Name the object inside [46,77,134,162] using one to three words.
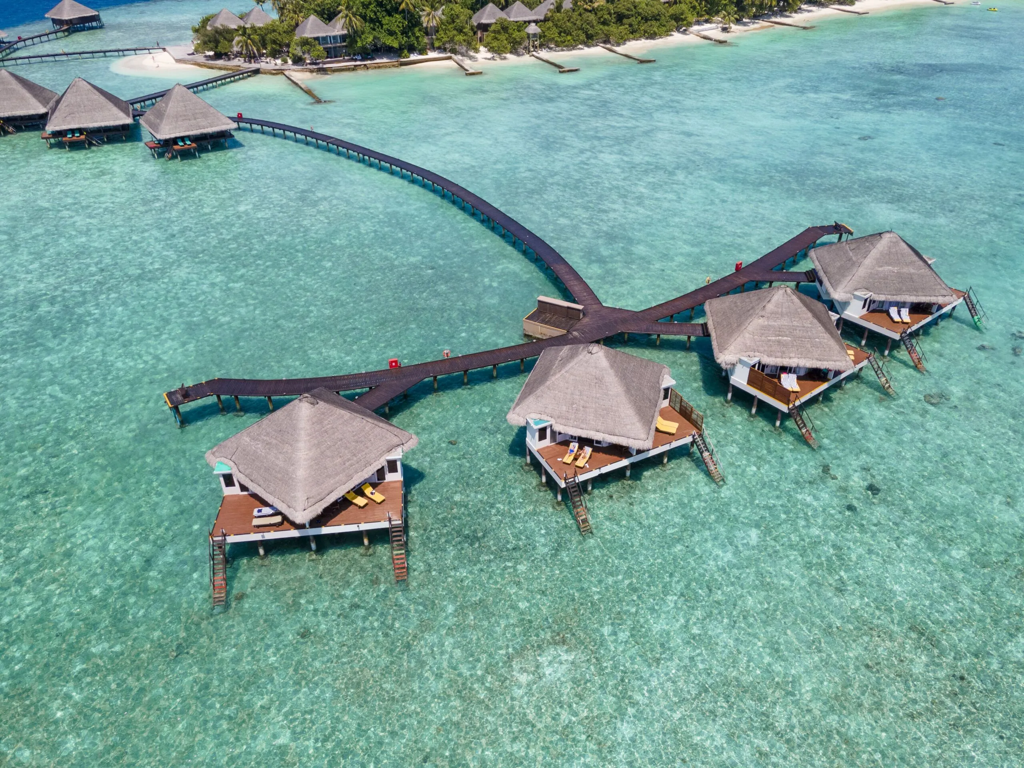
house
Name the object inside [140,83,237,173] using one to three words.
house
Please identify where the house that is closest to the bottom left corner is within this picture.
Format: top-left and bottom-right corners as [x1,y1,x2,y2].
[203,385,421,614]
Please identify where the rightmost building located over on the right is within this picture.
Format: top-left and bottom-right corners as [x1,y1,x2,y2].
[810,232,985,378]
